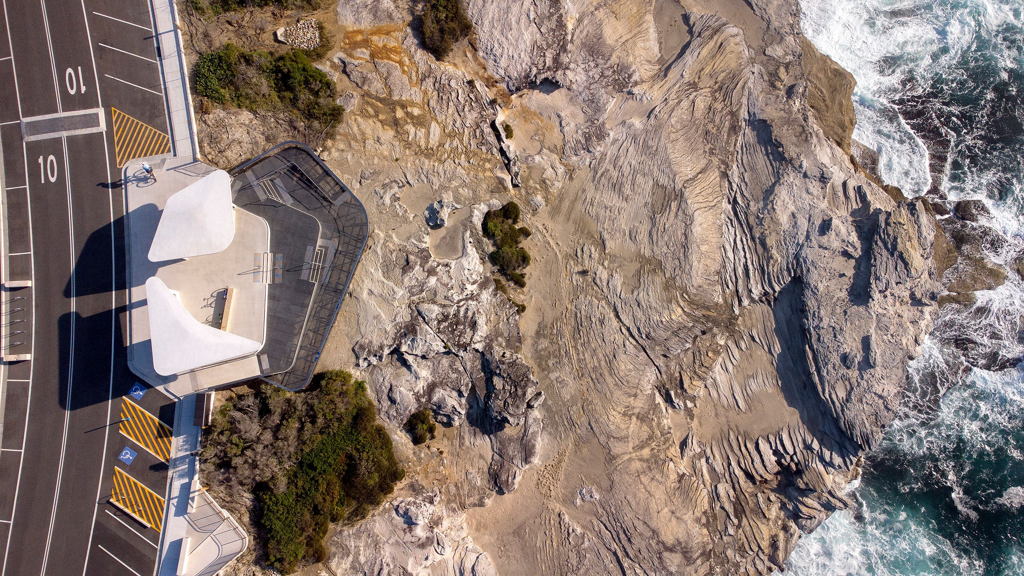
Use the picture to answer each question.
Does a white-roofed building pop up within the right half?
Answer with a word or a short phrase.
No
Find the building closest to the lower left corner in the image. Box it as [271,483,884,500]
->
[146,277,262,376]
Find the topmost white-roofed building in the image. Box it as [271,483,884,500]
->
[148,170,236,262]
